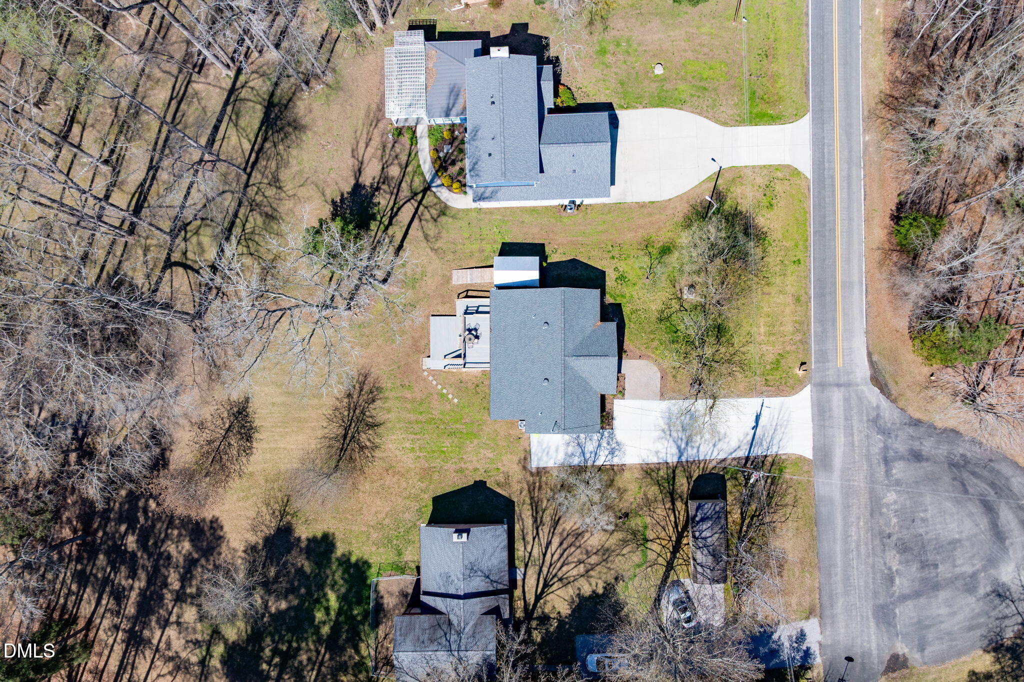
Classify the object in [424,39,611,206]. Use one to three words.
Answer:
house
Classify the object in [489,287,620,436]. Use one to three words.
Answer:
house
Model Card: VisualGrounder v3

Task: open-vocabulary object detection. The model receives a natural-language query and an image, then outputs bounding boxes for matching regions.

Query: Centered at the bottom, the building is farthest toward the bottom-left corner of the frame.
[393,512,510,682]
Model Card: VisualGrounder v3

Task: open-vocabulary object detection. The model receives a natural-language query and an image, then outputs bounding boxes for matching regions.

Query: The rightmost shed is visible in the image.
[686,499,728,587]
